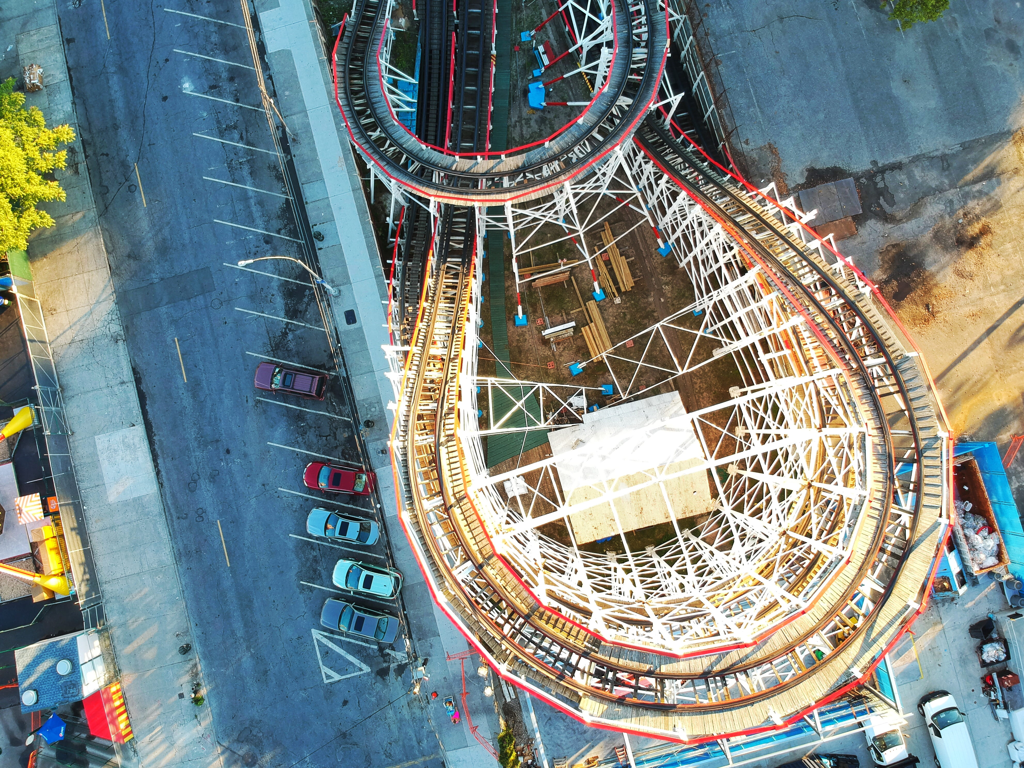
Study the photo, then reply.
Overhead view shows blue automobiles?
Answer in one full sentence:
Yes, there's a blue automobile here.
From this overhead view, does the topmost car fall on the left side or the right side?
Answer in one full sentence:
The topmost car appears in the left half of the scene.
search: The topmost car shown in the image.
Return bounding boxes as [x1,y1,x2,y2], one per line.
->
[253,361,330,401]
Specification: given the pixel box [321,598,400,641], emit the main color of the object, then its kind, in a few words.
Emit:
blue car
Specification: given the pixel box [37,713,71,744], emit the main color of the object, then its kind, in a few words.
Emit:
blue umbrella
